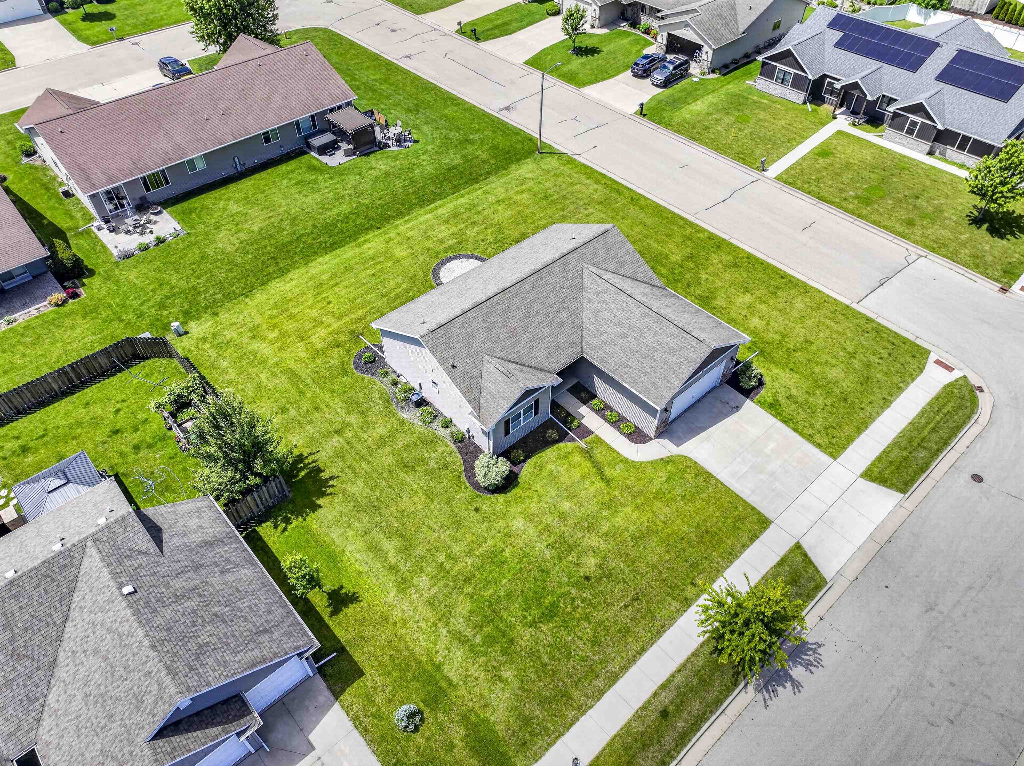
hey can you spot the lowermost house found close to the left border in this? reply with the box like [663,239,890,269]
[0,475,328,766]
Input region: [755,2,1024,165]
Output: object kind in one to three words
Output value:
house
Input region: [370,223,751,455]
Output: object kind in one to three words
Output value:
house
